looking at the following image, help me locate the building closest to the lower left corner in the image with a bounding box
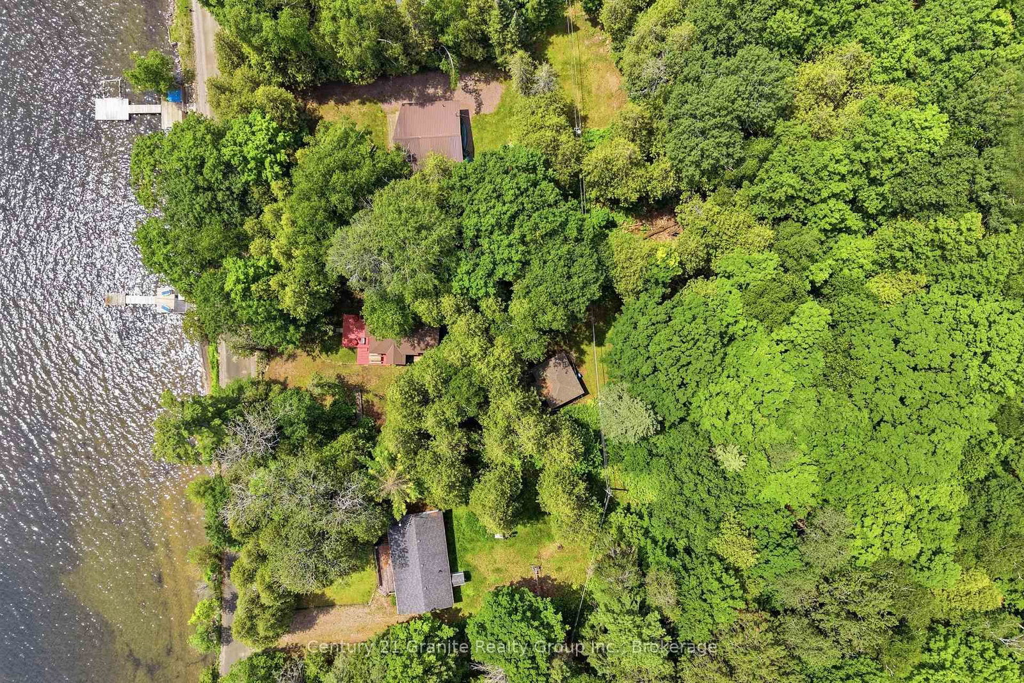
[377,509,466,614]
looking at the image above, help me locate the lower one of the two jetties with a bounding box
[104,287,194,313]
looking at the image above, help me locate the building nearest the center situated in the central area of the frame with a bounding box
[532,352,585,409]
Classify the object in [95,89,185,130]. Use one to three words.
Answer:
pier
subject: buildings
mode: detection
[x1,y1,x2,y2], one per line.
[341,312,439,365]
[391,95,462,182]
[532,352,585,409]
[377,509,466,614]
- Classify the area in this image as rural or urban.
rural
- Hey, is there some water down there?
Yes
